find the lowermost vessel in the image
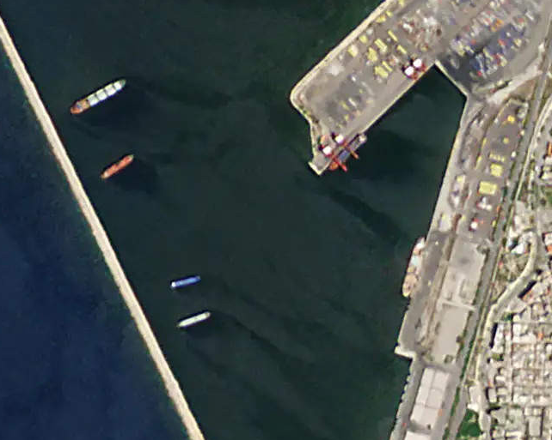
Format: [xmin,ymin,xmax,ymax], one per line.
[178,312,211,327]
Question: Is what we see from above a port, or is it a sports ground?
port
